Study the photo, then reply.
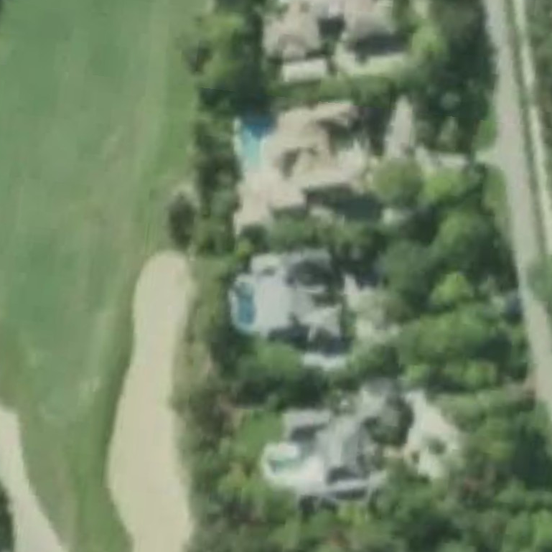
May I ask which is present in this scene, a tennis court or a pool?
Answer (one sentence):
It is a pool that can be seen here.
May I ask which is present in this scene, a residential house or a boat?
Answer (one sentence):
It is a residential house that can be seen here.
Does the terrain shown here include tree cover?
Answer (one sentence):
Yes, tree cover can be seen from above here.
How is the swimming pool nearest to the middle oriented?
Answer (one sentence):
Seen from above, the swimming pool nearest to the middle lies up and down.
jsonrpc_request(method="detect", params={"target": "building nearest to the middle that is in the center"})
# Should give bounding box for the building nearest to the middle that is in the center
[254,247,347,340]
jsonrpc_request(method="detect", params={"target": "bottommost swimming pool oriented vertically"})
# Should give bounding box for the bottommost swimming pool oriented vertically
[233,277,258,329]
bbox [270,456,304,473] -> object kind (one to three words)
swimming pool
